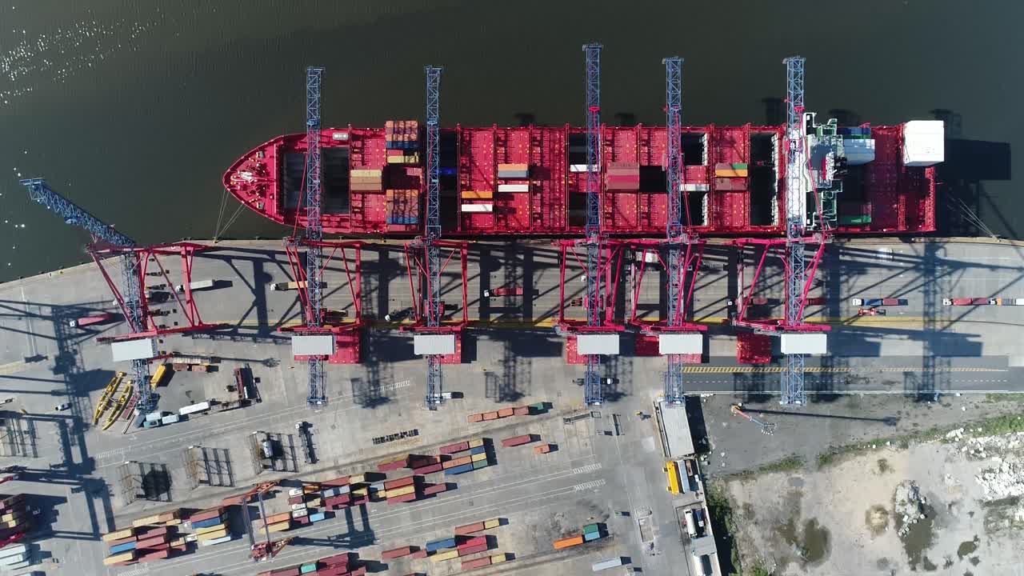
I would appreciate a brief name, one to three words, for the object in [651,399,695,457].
shed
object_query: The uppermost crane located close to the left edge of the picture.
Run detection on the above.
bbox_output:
[13,177,216,416]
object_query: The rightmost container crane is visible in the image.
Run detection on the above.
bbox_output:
[724,55,838,408]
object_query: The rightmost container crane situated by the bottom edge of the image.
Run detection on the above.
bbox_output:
[244,478,293,559]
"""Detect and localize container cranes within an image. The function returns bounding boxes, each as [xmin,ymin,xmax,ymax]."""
[724,55,838,408]
[13,177,216,416]
[619,56,713,408]
[395,65,477,408]
[244,478,293,559]
[273,65,372,408]
[546,42,630,408]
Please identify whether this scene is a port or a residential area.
port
